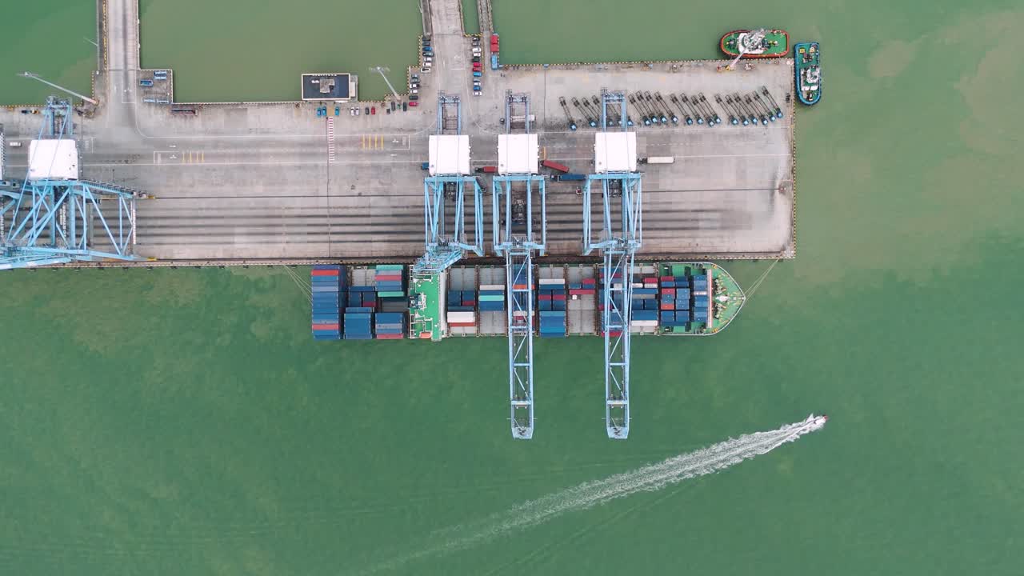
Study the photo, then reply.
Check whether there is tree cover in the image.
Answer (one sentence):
No, there is no tree cover in the image.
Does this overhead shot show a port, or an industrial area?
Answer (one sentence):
What you see here is a port.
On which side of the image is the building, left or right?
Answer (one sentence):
The building is on the left side of the image.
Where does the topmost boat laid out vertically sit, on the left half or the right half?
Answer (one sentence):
You can find the topmost boat laid out vertically on the right side of the picture.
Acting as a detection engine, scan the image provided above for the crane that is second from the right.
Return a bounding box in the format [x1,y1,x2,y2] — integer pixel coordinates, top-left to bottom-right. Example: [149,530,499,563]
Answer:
[490,83,550,438]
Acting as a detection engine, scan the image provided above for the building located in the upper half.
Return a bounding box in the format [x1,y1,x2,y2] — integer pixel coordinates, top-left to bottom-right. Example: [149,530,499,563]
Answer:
[301,73,362,105]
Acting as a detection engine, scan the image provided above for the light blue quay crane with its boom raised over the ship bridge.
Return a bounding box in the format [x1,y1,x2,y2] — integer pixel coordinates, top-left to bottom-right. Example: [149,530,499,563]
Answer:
[408,84,489,281]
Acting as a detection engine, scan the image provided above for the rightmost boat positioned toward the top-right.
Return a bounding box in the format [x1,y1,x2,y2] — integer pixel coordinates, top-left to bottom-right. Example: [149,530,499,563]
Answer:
[792,43,820,108]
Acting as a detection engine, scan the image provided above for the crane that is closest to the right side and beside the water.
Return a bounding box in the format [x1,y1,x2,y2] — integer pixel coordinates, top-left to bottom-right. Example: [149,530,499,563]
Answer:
[573,82,645,437]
